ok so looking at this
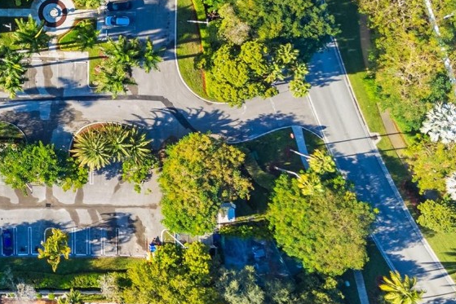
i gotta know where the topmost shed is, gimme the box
[220,207,242,229]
